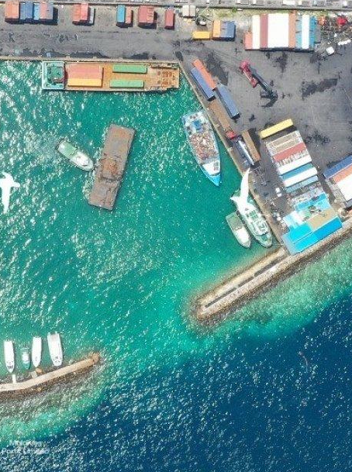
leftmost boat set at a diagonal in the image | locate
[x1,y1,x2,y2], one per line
[55,139,92,169]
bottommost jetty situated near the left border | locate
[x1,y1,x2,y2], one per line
[0,355,94,389]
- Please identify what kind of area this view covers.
port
